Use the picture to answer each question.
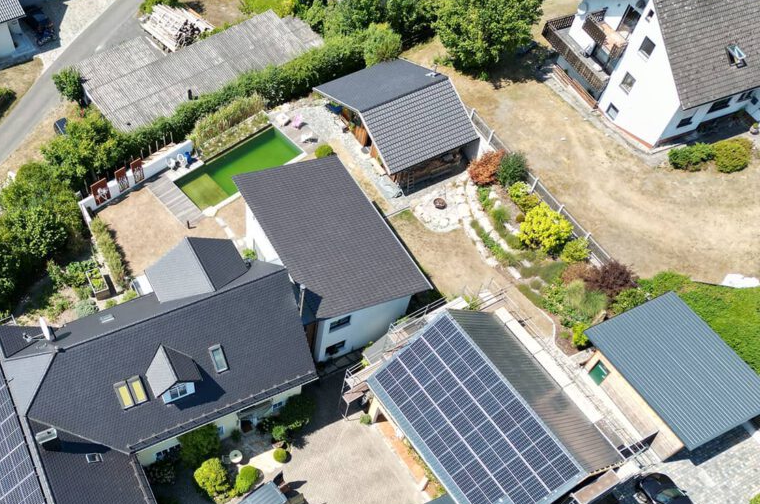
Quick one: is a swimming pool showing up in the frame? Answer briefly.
Yes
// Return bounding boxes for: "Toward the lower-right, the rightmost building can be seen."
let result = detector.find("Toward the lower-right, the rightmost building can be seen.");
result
[573,291,760,463]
